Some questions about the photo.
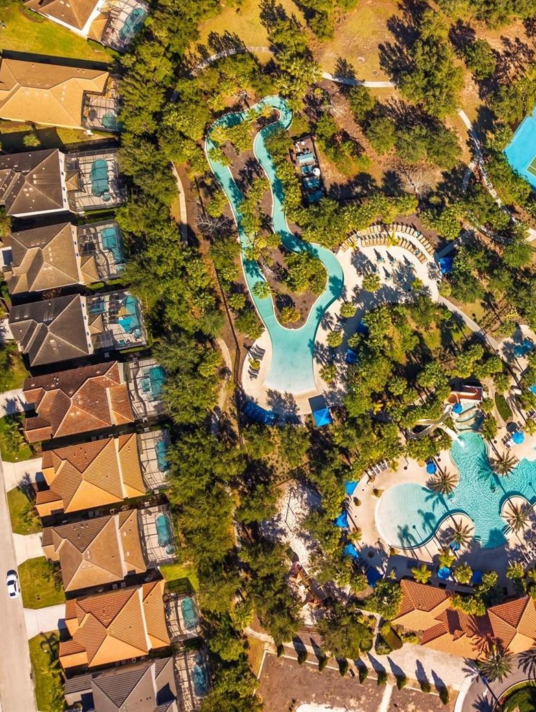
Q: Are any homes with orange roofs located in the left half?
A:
Yes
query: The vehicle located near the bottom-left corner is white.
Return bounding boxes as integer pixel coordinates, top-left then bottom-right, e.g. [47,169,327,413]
[6,573,19,596]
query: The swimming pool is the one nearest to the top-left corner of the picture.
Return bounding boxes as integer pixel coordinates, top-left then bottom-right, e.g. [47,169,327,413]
[123,10,145,35]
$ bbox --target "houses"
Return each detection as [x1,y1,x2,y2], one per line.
[0,148,76,219]
[35,434,149,517]
[0,58,113,131]
[42,509,150,592]
[59,579,174,668]
[24,0,118,35]
[23,360,138,443]
[9,294,101,367]
[63,655,188,712]
[4,222,89,294]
